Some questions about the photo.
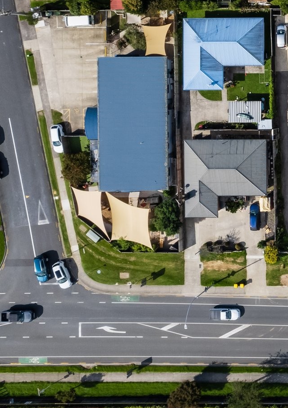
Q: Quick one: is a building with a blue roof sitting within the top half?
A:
Yes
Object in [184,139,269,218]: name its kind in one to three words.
house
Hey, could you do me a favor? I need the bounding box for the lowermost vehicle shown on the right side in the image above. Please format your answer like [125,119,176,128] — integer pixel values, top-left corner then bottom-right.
[210,307,242,321]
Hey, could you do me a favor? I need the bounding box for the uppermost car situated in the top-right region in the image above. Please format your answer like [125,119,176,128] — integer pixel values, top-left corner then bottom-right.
[274,24,288,48]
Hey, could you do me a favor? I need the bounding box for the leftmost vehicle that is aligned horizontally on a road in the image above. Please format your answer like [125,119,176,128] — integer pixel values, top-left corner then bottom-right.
[1,309,35,324]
